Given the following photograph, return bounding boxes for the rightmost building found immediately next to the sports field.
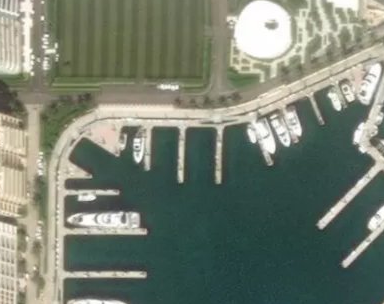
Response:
[236,0,292,58]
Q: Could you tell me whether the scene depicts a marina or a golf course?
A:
marina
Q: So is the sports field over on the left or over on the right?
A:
left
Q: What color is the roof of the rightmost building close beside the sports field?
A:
white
